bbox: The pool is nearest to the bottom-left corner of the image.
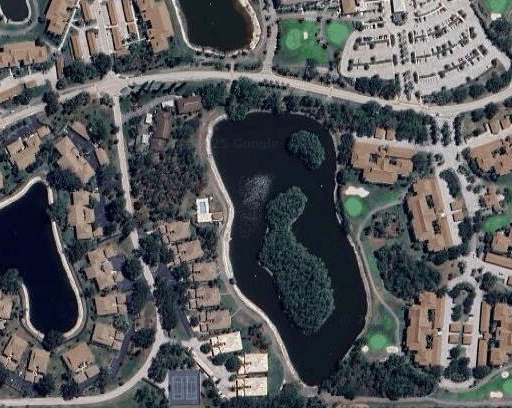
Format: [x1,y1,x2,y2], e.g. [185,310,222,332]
[196,200,212,223]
